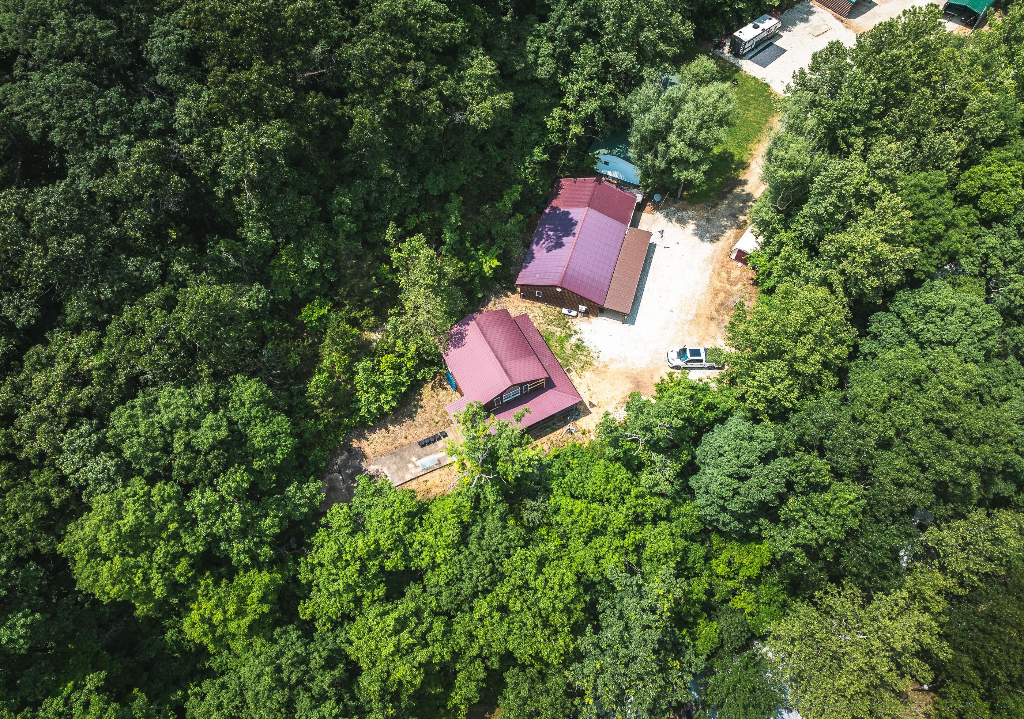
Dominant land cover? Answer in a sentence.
The largest share of the image is taken up by trees.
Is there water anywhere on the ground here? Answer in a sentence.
No, there's no water in this view.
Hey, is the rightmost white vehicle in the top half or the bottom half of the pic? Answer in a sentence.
The rightmost white vehicle is in the top half of the image.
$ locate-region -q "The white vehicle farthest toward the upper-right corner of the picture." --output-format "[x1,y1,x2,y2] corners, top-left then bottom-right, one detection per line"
[728,14,778,57]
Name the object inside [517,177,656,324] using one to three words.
house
